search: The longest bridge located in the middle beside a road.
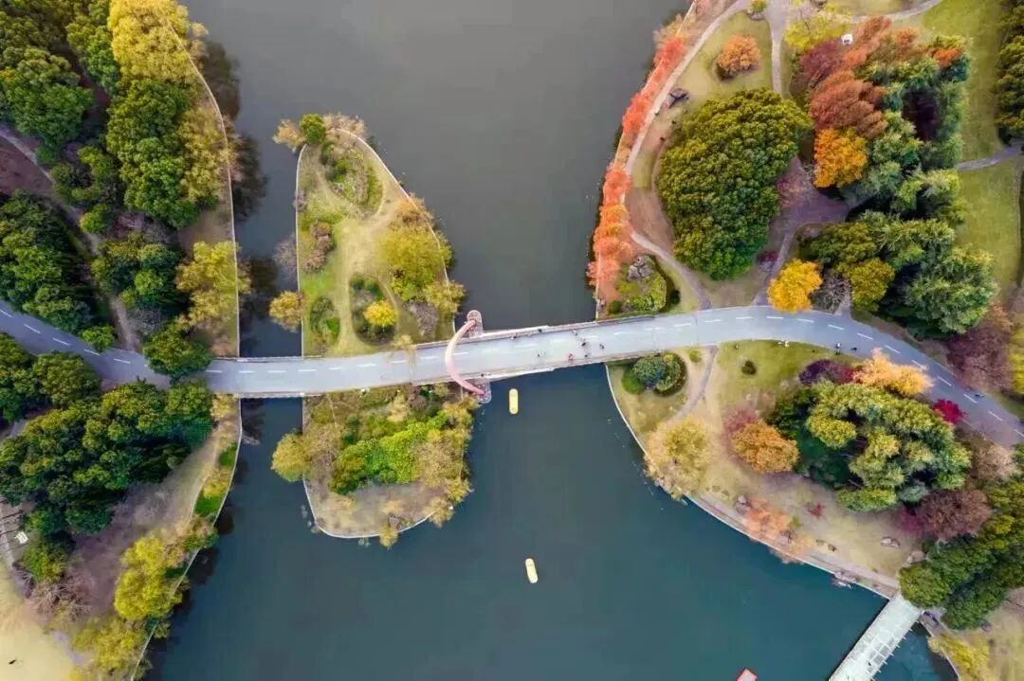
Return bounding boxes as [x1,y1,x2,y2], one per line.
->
[413,310,613,403]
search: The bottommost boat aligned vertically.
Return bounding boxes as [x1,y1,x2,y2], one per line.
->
[525,558,537,583]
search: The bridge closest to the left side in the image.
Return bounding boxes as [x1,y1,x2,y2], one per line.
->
[206,356,307,398]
